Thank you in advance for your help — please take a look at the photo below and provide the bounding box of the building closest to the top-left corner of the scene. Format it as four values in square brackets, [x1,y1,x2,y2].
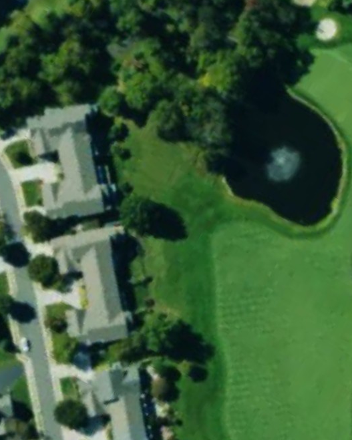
[28,103,113,221]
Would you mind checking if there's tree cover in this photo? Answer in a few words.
Yes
